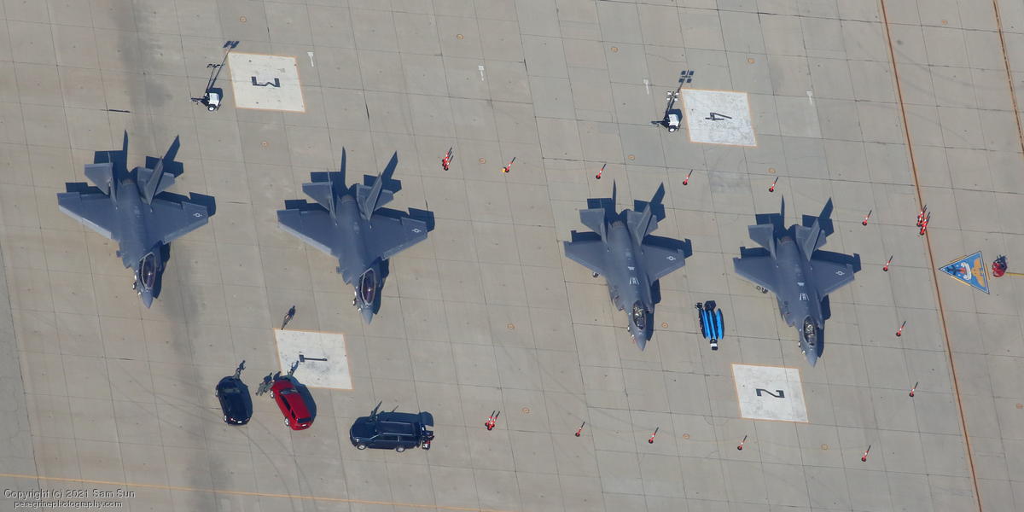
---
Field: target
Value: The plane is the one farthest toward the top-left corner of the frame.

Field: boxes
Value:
[60,156,210,309]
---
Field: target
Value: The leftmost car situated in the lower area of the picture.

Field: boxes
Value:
[214,381,250,429]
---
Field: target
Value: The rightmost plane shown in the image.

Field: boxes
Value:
[734,221,856,367]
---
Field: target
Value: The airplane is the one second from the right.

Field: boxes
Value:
[564,202,686,350]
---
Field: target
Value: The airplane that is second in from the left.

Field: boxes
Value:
[280,170,430,323]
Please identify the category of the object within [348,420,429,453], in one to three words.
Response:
car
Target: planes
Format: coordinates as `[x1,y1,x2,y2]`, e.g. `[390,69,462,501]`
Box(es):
[564,202,686,350]
[60,156,210,309]
[734,221,856,367]
[280,170,430,323]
